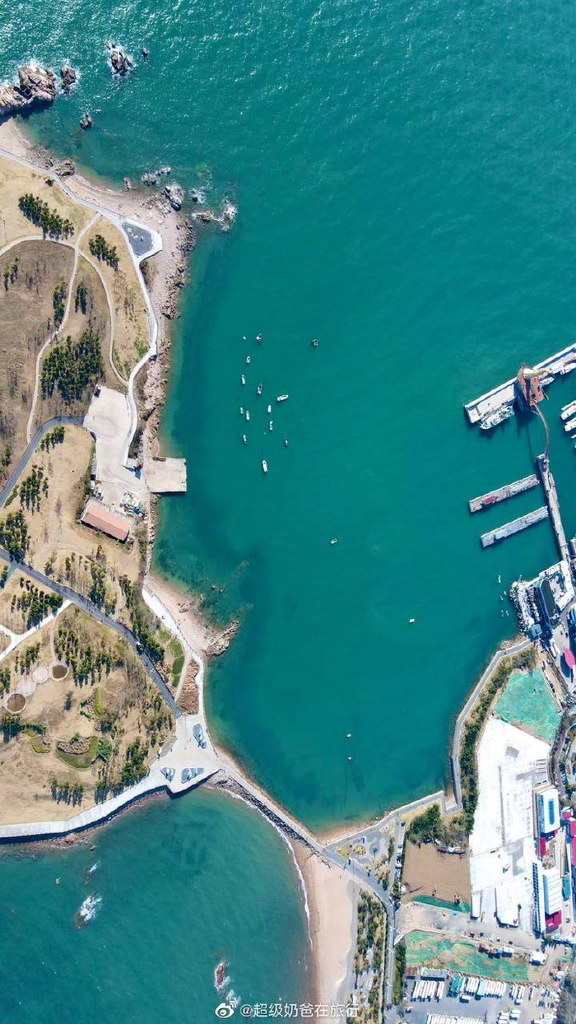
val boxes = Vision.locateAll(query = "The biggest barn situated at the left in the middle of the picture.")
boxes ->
[81,504,130,540]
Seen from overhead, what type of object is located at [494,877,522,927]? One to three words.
shed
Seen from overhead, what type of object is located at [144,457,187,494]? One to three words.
pier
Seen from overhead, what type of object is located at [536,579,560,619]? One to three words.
building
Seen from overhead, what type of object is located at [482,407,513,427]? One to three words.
boat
